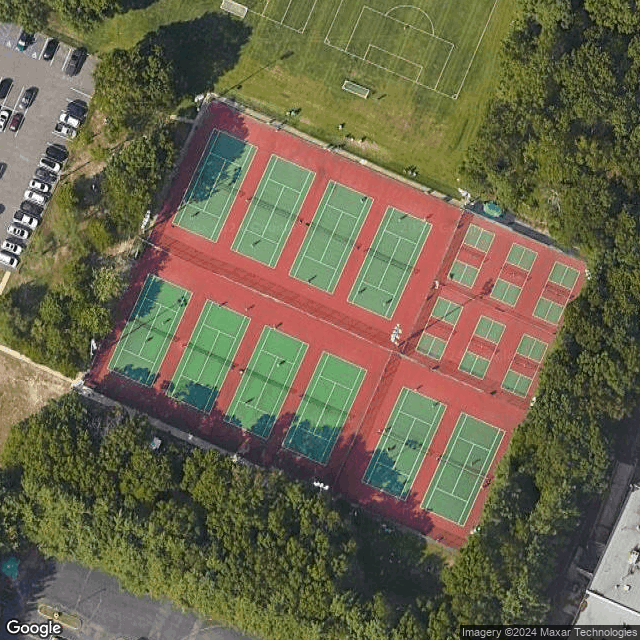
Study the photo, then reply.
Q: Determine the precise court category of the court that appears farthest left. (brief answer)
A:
tennis court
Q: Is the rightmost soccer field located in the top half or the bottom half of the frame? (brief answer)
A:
top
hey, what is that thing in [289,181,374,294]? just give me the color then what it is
green tennis court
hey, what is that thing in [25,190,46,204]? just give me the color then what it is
white vehicle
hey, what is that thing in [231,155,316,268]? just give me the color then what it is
green tennis court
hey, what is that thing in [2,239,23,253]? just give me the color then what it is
white car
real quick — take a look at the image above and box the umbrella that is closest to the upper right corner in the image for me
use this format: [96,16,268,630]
[484,202,501,216]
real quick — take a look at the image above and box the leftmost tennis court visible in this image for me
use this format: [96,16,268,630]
[108,274,193,388]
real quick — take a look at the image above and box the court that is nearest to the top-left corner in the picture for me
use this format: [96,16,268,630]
[172,129,258,242]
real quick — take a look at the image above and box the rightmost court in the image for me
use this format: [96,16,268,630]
[532,261,581,326]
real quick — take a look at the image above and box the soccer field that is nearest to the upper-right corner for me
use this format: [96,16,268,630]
[324,0,498,99]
